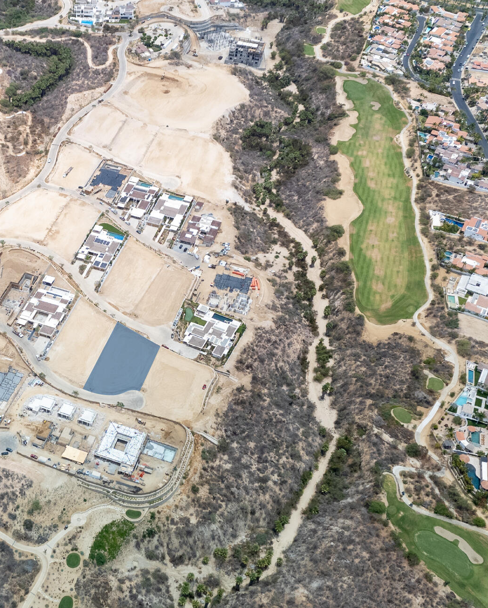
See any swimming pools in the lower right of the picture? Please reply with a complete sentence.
Yes, a swimming pool appears in the lower right of the picture.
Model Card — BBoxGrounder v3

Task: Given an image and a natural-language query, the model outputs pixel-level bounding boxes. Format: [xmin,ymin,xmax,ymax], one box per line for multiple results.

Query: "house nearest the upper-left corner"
[74,0,106,28]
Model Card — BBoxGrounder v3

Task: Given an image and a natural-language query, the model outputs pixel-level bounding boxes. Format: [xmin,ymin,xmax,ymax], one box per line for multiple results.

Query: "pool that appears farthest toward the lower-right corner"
[465,461,486,489]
